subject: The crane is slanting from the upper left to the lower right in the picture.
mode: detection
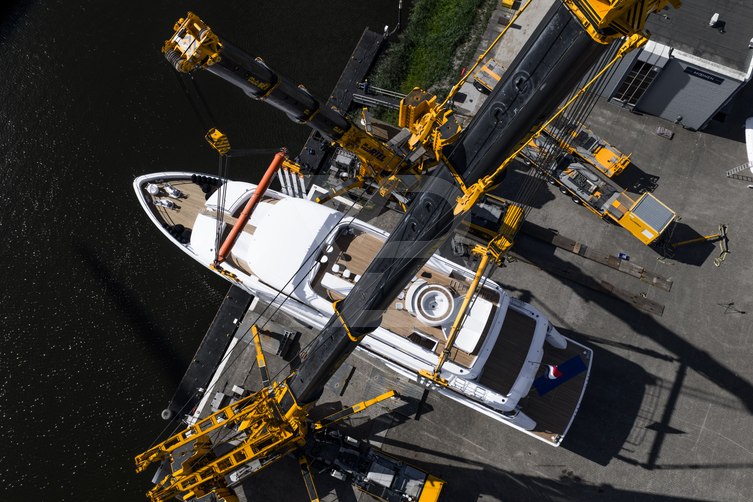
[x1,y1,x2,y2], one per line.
[159,1,507,254]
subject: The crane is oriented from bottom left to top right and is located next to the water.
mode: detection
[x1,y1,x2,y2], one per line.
[125,0,683,502]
